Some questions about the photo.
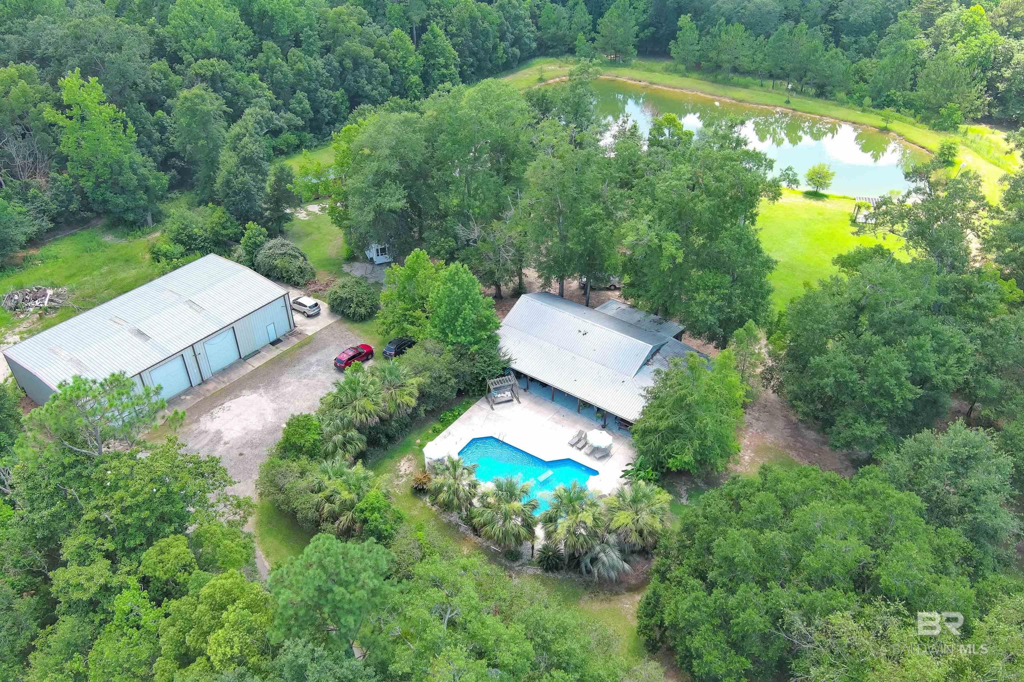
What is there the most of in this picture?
trees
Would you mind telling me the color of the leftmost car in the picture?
white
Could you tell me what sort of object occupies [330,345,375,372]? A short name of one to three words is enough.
car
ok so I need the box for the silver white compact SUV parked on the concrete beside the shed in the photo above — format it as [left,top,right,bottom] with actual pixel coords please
[291,296,321,318]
